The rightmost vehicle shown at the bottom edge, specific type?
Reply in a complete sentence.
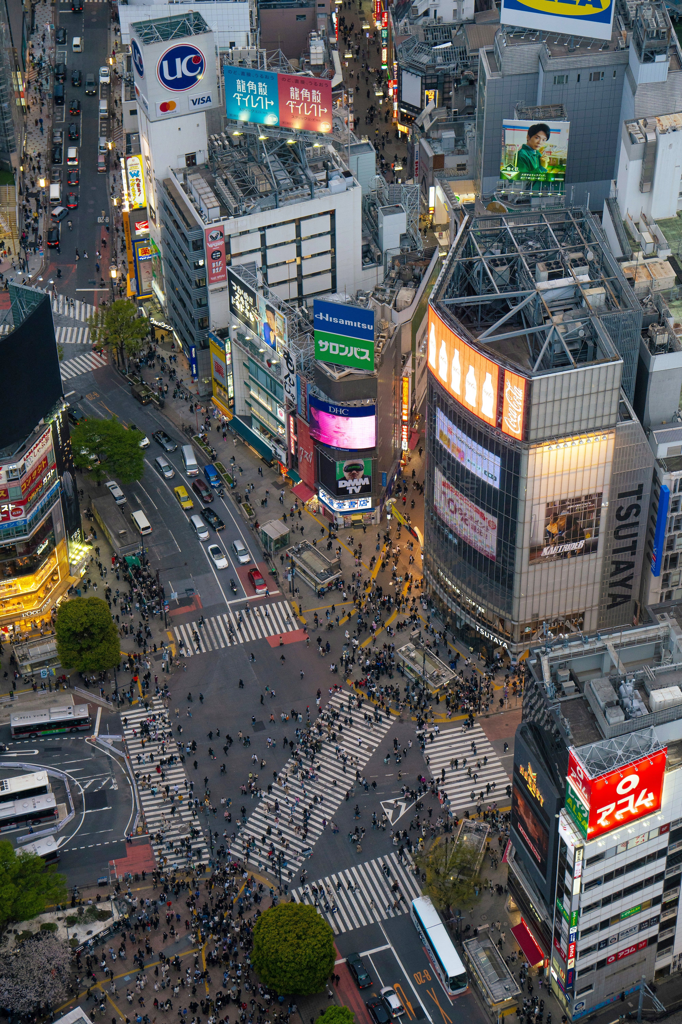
I'd identify the rightmost vehicle shown at the bottom edge as a bus.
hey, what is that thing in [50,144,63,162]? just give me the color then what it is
black vehicle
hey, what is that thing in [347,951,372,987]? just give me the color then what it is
black car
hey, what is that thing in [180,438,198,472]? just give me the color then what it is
gray vehicle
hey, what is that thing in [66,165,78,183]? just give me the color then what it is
black vehicle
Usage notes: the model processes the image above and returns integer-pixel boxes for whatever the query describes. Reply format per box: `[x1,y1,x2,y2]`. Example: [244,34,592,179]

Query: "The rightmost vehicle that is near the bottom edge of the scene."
[411,896,469,992]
